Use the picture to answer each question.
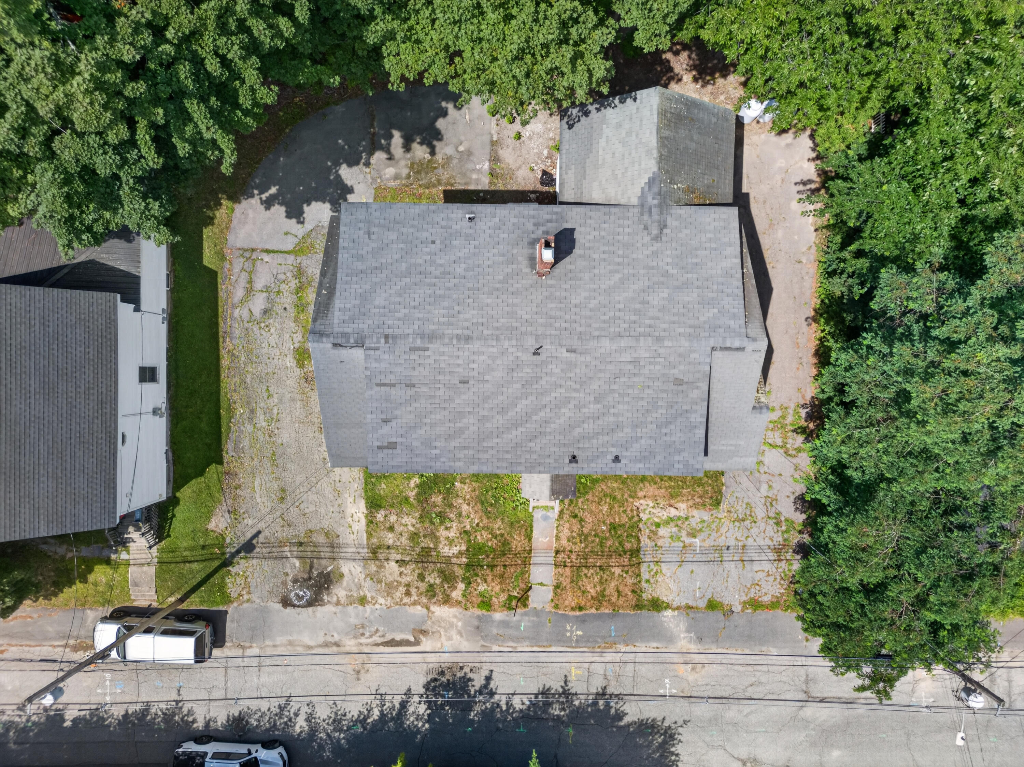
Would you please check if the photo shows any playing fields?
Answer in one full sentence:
No, there appears to be no playing field in this shot.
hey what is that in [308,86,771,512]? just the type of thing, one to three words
house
